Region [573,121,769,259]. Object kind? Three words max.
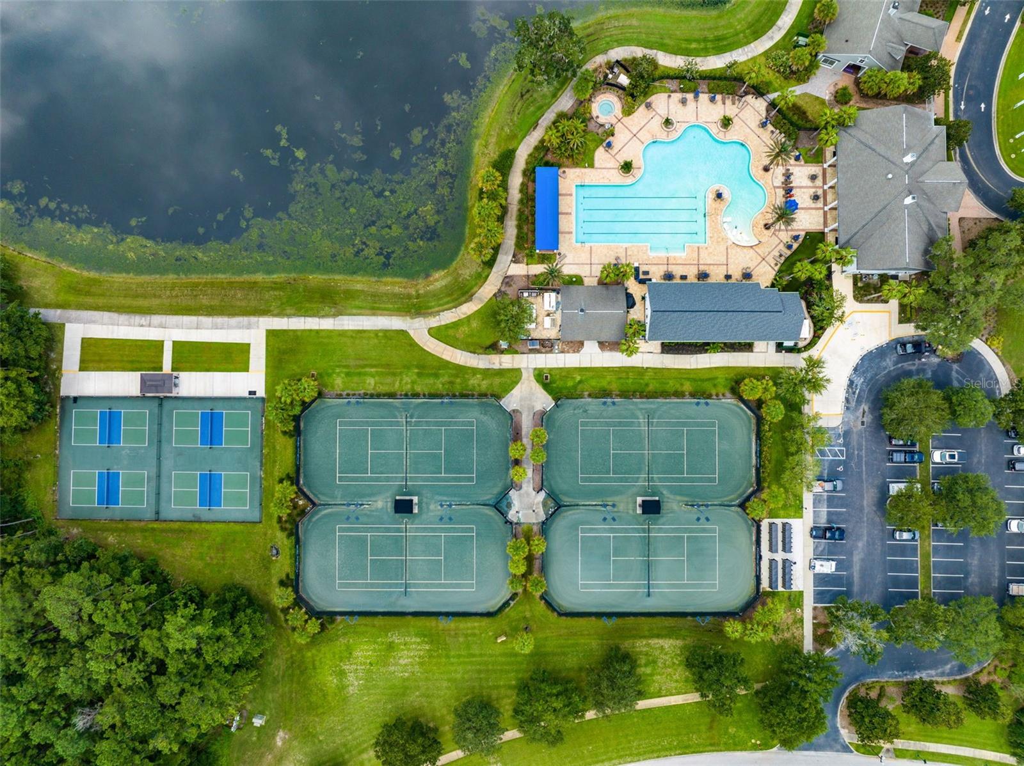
swimming pool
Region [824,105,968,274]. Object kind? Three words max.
building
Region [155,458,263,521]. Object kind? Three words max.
sports court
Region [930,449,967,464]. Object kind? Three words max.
vehicle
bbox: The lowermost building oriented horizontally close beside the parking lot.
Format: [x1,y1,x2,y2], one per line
[646,282,812,345]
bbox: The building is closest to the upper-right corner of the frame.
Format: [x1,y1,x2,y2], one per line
[815,0,949,78]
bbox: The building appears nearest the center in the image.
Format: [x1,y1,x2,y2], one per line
[561,285,627,341]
